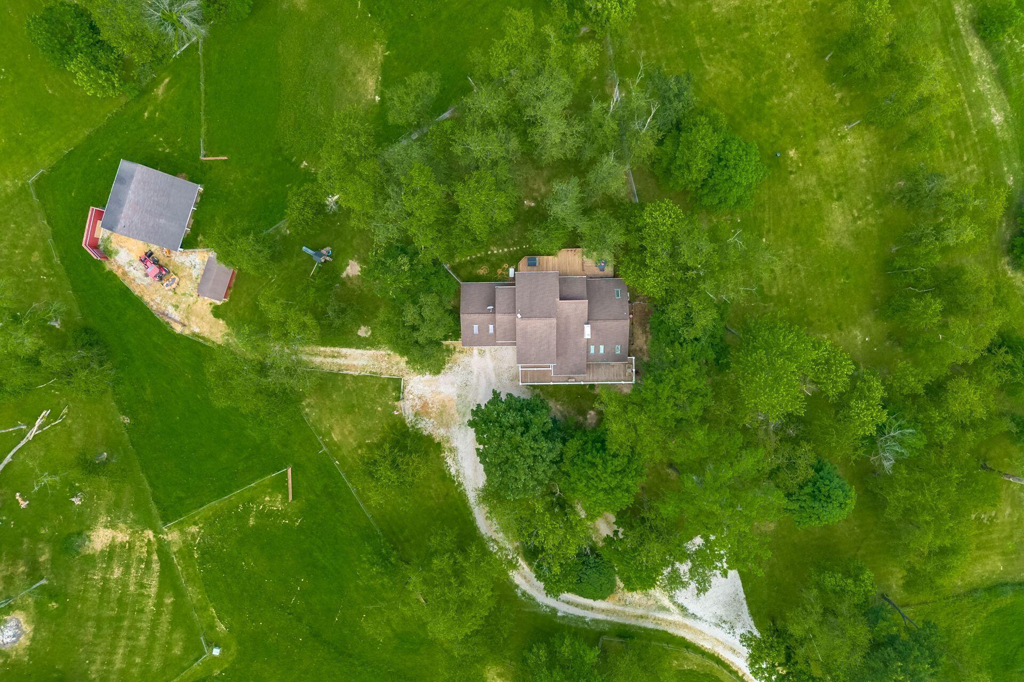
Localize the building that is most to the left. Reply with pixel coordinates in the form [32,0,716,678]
[100,159,205,252]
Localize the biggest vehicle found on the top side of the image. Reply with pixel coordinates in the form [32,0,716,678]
[143,248,171,279]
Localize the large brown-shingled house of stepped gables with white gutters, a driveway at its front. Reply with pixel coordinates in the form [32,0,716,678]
[459,271,632,376]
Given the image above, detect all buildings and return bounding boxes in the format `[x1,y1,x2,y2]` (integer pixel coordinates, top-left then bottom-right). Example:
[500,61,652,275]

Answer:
[100,159,205,252]
[459,271,632,376]
[197,255,242,302]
